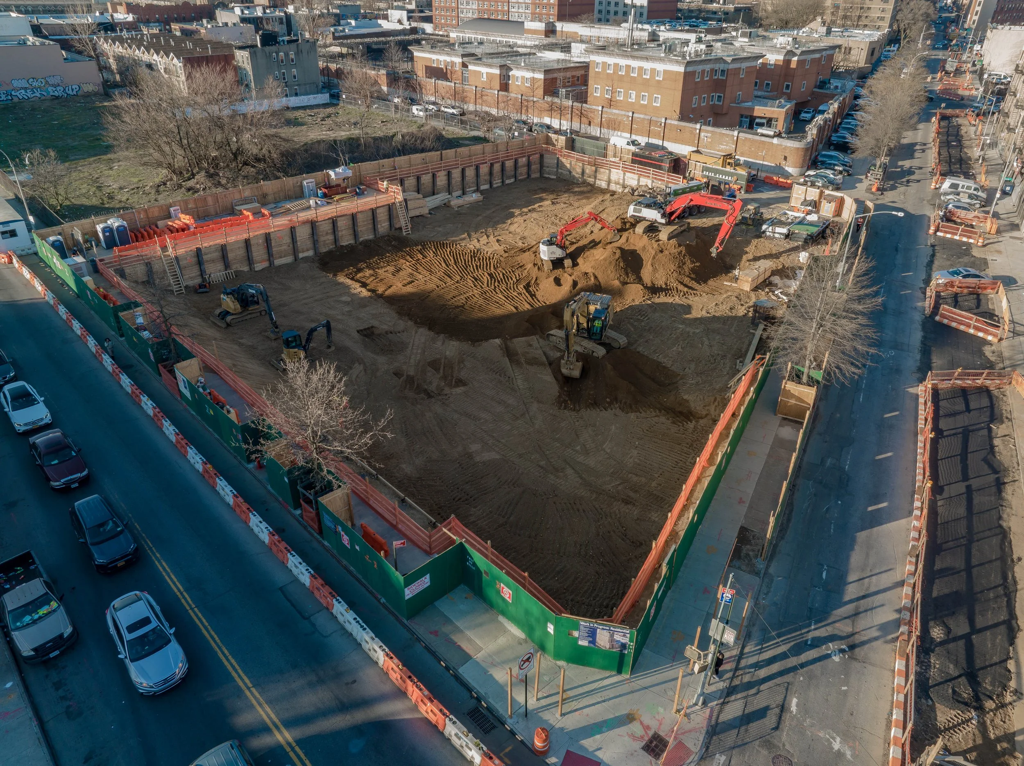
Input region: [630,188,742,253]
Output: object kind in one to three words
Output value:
work vehicle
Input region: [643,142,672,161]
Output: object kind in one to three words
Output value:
car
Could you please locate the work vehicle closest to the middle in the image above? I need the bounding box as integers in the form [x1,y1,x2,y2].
[545,293,629,363]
